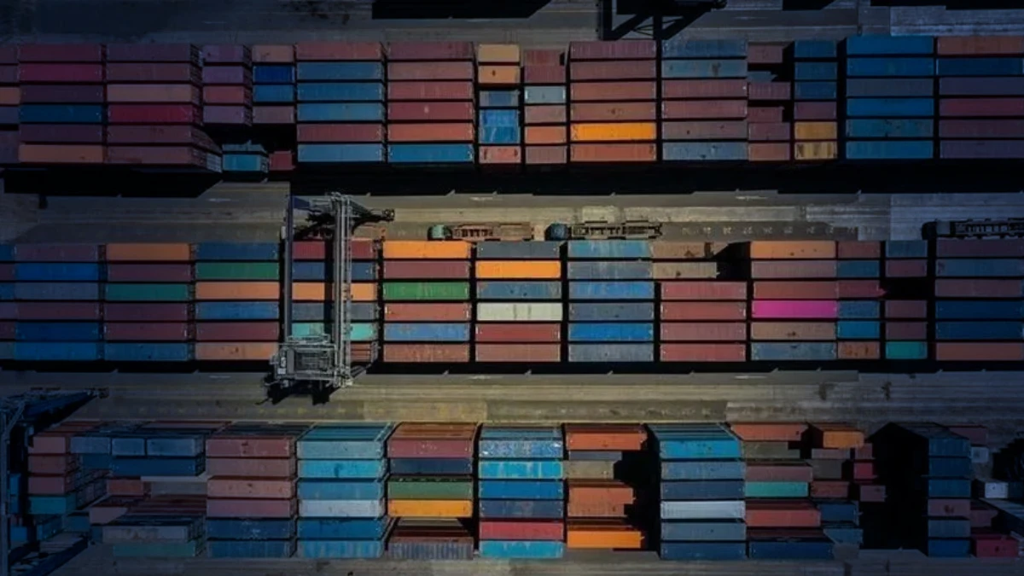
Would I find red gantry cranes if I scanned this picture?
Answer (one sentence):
No, the photo shows no red gantry crane.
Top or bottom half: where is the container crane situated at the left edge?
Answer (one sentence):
The bottom half of the photo is where the container crane situated at the left edge is.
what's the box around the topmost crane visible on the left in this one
[261,195,398,394]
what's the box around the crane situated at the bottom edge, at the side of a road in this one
[0,383,112,576]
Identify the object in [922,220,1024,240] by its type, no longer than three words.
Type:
vehicle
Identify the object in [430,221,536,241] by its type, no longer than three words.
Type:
vehicle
